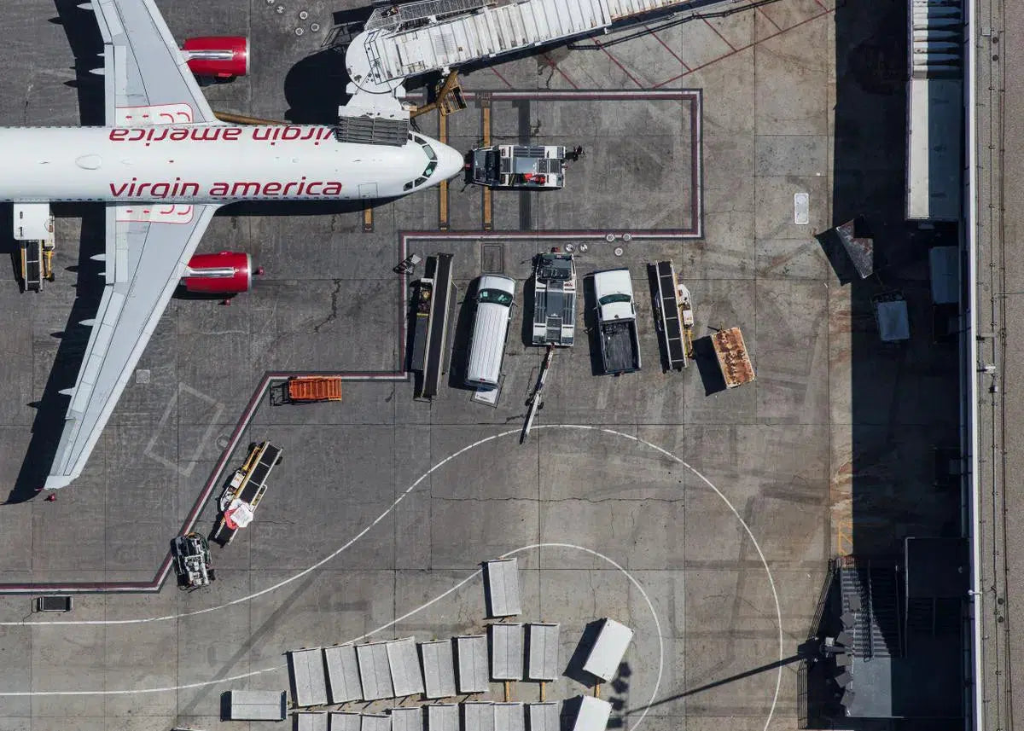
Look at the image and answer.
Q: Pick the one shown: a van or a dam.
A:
van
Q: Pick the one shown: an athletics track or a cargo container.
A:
cargo container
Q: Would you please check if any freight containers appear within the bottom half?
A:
No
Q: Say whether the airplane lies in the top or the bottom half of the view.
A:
top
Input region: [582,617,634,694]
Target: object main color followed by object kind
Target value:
white trailer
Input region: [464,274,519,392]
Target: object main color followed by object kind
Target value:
white van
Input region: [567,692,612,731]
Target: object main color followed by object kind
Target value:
white trailer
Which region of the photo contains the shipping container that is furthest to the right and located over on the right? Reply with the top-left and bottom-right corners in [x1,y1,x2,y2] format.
[926,247,955,304]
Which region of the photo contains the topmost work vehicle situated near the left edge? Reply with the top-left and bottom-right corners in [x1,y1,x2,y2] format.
[20,211,60,297]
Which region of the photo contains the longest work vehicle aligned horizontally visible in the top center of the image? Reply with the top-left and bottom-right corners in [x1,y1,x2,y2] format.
[470,142,569,191]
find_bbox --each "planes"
[0,0,464,490]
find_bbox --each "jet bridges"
[339,0,741,148]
